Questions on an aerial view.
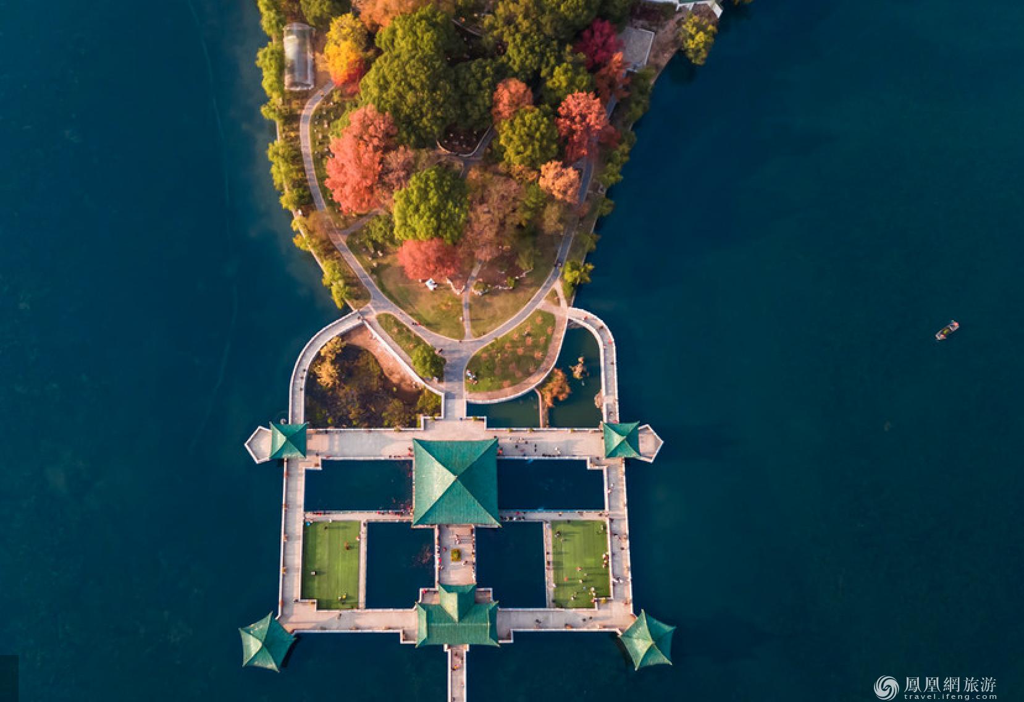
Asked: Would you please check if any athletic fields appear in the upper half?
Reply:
No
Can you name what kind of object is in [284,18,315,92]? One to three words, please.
greenhouse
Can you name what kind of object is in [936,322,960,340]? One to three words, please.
boat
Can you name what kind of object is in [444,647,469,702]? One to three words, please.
pier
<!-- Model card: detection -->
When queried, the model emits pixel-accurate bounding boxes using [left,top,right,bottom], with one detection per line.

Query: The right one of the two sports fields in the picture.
[552,520,612,608]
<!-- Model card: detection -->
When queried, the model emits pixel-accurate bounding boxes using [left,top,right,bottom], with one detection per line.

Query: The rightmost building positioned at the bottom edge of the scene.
[619,607,678,672]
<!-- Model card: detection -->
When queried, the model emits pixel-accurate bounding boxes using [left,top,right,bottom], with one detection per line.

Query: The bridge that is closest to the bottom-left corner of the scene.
[288,309,364,423]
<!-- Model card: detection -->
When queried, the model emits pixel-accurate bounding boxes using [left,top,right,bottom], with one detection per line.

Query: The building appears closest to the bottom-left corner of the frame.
[238,610,298,673]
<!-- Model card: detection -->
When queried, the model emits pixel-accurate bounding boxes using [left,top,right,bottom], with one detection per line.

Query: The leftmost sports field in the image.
[300,521,360,609]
